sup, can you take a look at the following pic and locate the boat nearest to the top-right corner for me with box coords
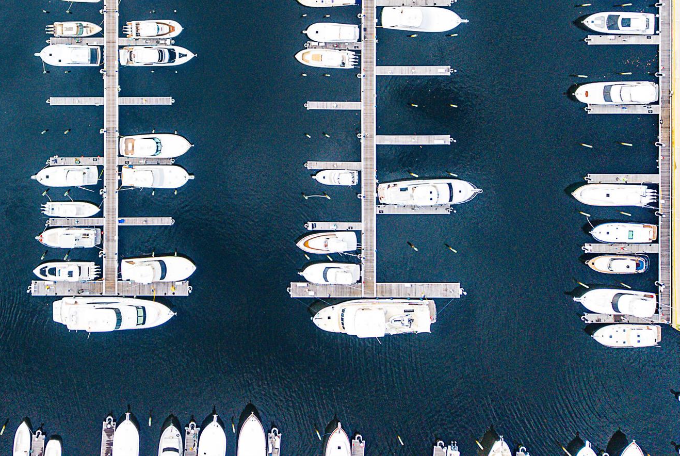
[581,11,655,35]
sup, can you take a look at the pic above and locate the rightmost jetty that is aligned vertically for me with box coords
[655,0,671,323]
